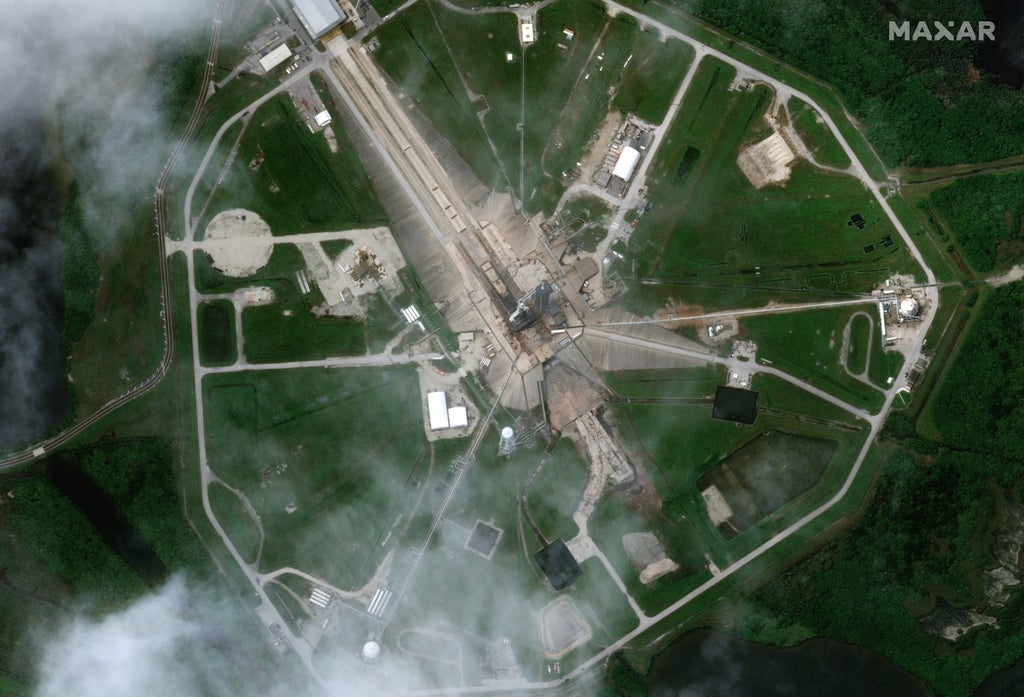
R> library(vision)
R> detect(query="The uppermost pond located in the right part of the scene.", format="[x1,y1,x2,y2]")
[701,435,836,537]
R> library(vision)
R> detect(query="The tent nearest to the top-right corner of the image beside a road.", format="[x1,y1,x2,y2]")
[613,147,640,181]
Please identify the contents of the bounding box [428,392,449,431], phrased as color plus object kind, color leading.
white tent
